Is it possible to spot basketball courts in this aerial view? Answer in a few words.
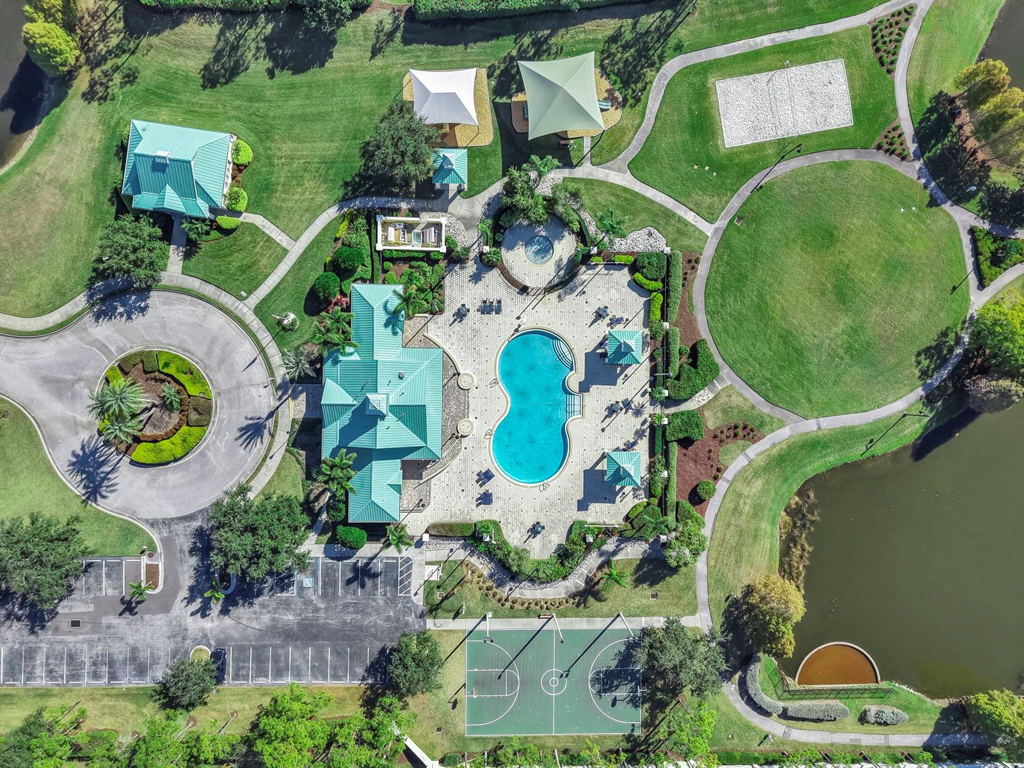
Yes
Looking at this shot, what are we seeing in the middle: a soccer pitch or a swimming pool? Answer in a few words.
swimming pool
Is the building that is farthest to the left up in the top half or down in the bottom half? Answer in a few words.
top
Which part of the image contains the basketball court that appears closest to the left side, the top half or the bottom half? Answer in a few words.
bottom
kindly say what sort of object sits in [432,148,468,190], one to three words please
gazebo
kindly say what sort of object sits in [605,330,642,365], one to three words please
gazebo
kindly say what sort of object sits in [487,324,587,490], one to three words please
swimming pool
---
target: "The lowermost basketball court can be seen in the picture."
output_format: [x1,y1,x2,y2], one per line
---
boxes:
[466,630,641,735]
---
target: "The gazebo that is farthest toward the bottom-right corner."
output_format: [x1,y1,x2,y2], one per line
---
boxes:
[604,450,642,487]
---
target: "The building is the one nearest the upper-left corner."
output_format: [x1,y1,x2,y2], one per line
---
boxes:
[122,119,235,221]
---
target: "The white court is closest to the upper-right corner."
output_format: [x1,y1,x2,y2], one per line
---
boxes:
[715,58,855,148]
